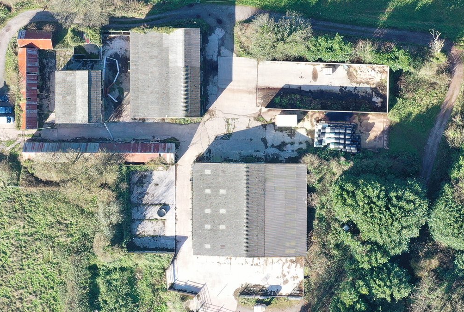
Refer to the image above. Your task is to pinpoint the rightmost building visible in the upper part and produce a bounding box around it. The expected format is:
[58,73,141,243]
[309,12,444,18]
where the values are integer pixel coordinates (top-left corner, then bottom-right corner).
[130,28,202,117]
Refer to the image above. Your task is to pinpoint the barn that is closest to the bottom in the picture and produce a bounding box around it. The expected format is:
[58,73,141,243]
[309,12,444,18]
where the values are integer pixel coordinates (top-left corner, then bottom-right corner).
[193,163,307,258]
